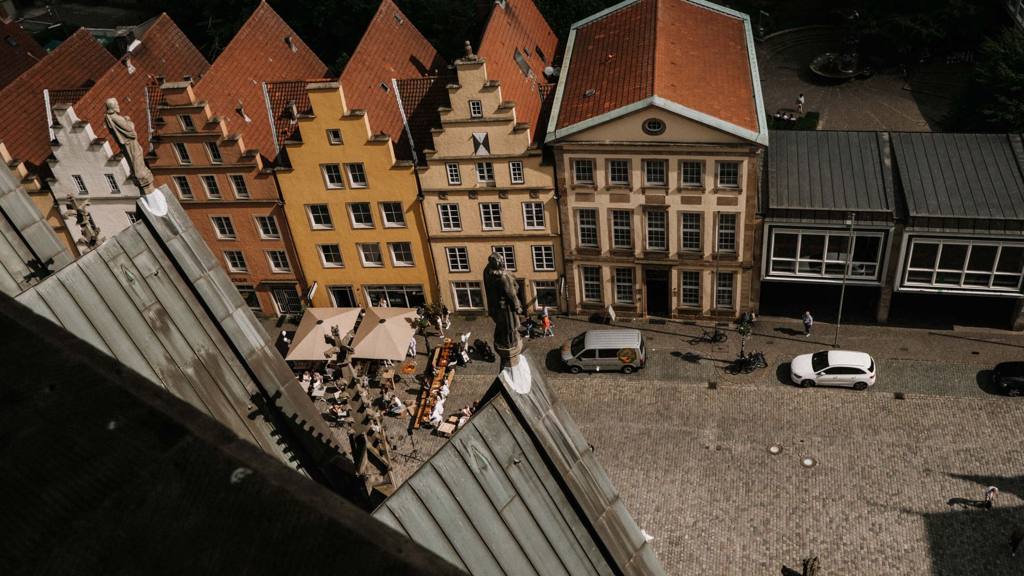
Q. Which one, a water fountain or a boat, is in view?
water fountain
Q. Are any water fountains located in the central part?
No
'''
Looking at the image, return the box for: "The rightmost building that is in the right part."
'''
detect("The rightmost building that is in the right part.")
[893,133,1024,297]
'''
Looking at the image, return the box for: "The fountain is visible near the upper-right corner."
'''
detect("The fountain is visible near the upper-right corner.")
[811,36,874,85]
